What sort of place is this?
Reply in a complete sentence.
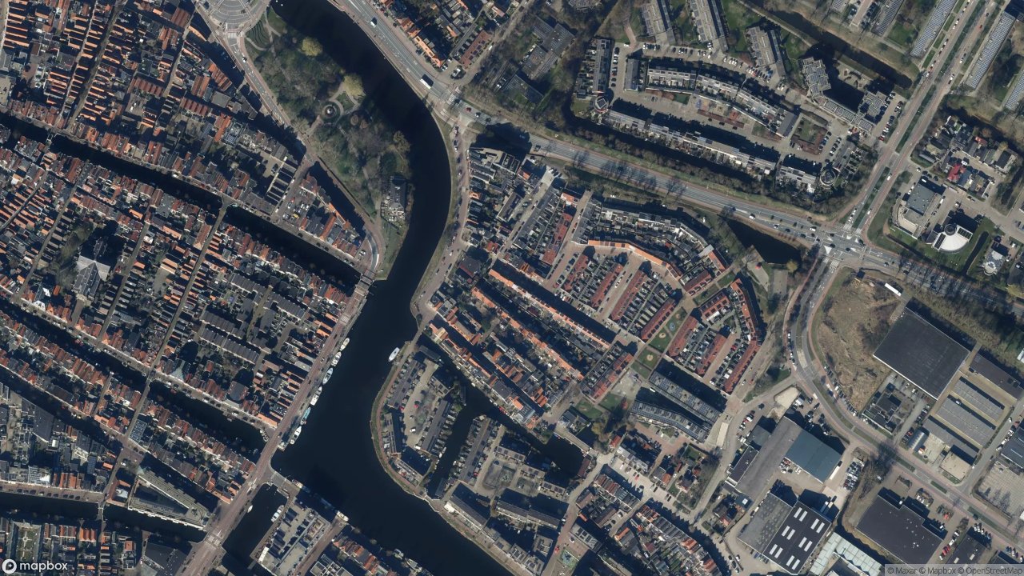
This image shows a residential area.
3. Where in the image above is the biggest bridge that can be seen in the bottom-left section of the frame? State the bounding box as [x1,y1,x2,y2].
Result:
[200,513,235,554]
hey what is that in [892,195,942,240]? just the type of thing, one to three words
building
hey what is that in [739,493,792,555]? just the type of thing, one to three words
building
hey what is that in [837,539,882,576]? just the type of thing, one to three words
greenhouse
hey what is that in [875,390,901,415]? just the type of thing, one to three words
house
